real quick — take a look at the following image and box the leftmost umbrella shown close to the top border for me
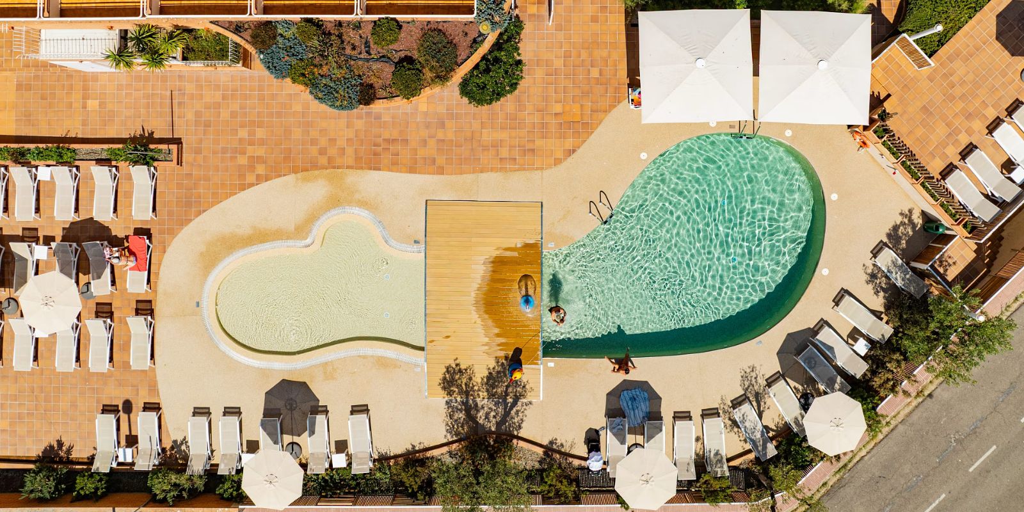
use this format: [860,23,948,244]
[637,9,753,123]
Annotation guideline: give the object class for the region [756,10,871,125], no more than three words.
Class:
umbrella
